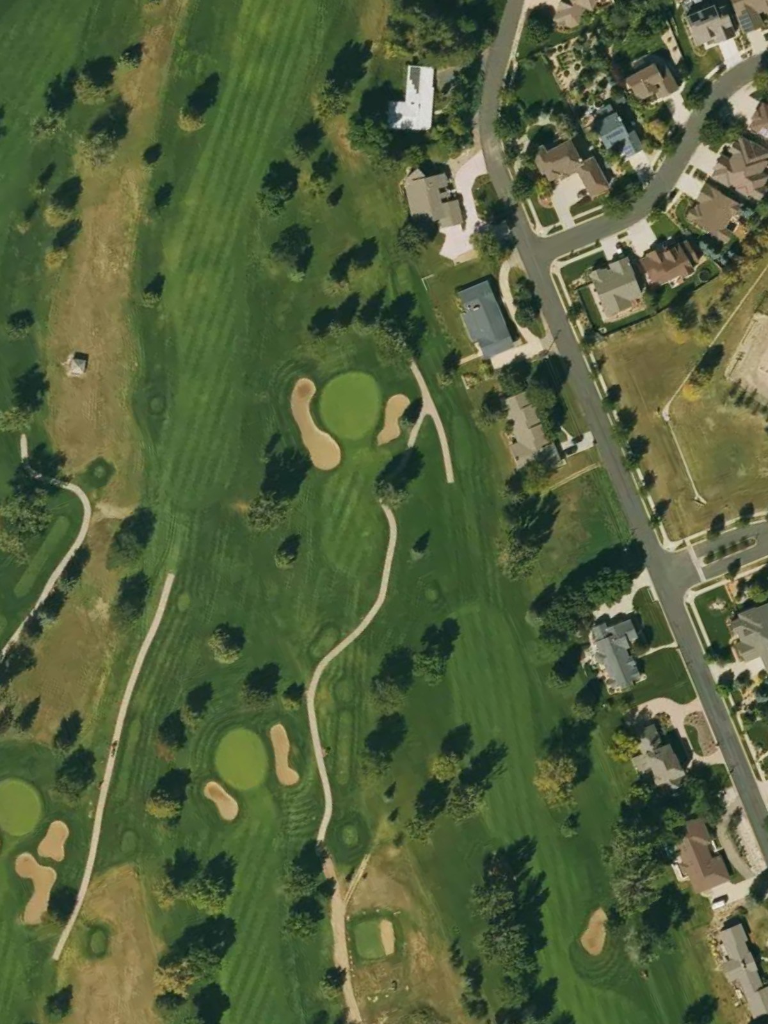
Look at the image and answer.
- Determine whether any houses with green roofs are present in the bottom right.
No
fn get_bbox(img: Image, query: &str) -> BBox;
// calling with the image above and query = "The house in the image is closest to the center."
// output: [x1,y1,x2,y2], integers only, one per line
[503,393,561,474]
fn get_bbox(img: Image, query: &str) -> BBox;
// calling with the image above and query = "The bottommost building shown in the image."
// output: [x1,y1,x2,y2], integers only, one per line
[720,926,768,1016]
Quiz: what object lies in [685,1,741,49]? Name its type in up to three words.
house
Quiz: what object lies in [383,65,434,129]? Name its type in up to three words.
house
